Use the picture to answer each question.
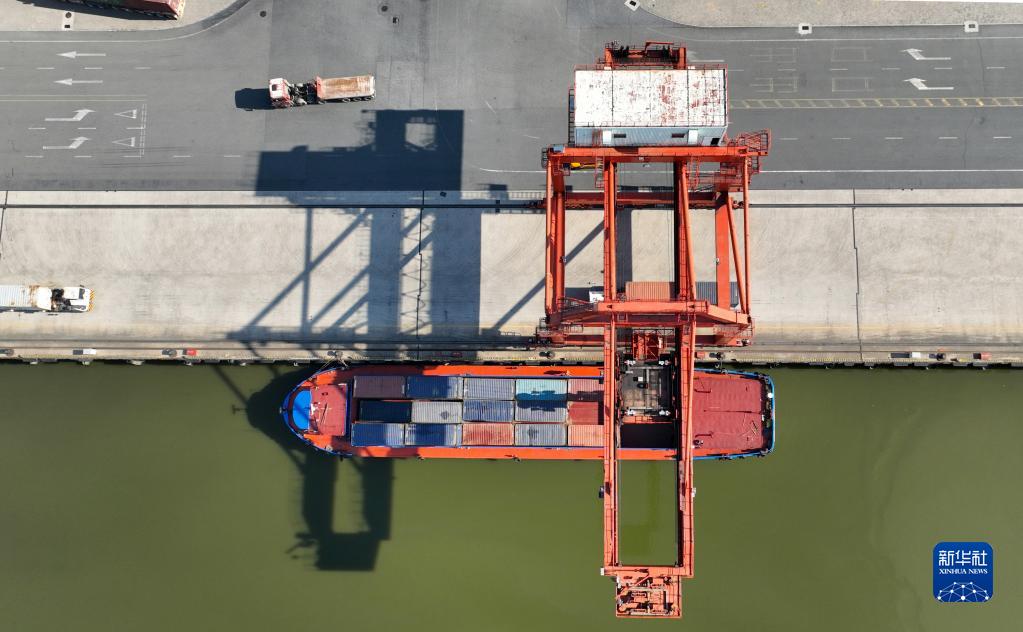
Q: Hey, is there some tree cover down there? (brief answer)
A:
No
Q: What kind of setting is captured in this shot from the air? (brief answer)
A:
port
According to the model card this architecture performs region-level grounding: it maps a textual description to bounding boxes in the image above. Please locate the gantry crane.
[529,40,770,617]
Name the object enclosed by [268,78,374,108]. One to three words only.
truck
